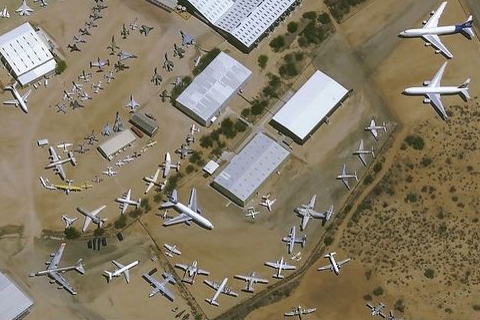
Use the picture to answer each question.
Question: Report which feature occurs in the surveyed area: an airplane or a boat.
airplane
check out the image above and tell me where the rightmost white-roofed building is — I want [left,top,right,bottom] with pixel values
[272,70,348,143]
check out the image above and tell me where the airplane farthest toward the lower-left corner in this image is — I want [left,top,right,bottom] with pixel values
[29,239,87,299]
